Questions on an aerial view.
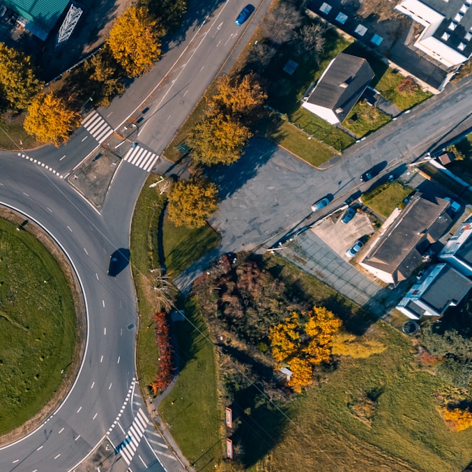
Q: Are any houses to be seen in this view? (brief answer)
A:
Yes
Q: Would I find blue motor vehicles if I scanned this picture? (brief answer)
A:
Yes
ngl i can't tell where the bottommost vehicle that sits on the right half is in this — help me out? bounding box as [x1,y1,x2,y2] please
[344,239,365,257]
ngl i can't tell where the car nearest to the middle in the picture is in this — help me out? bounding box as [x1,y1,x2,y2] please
[310,195,331,211]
